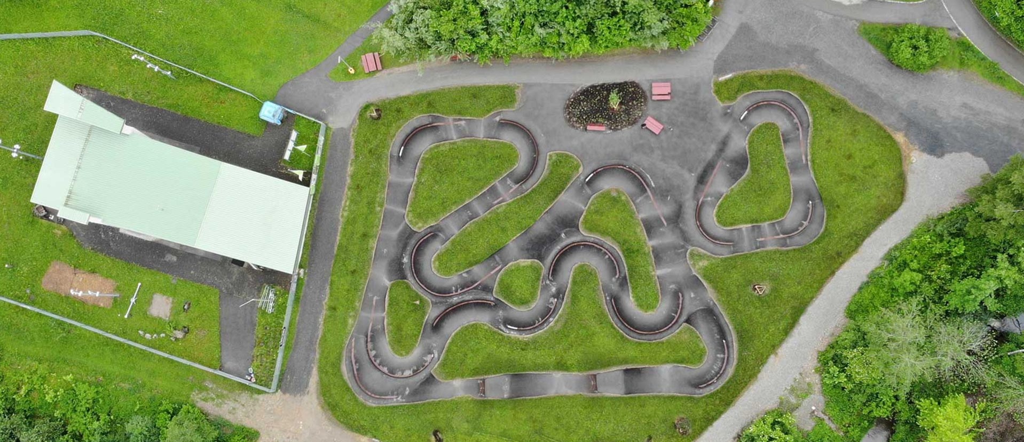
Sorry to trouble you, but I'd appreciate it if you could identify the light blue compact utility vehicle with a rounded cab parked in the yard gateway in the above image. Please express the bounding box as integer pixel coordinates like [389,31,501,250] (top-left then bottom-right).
[258,100,291,127]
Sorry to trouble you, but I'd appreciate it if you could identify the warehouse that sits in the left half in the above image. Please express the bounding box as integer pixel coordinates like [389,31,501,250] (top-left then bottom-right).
[30,79,314,274]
